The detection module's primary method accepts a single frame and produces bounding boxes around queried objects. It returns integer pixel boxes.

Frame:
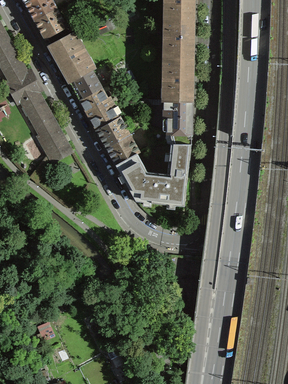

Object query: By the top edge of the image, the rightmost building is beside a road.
[162,0,196,102]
